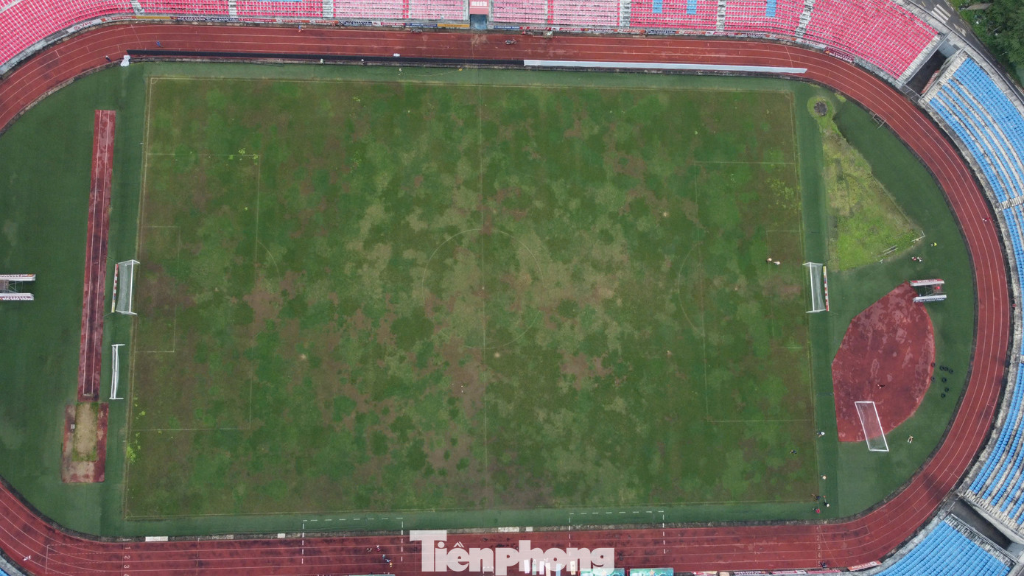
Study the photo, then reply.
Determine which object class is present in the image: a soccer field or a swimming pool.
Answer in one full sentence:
Visible in the photo is a soccer field.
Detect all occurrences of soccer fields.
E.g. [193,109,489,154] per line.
[120,76,824,520]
